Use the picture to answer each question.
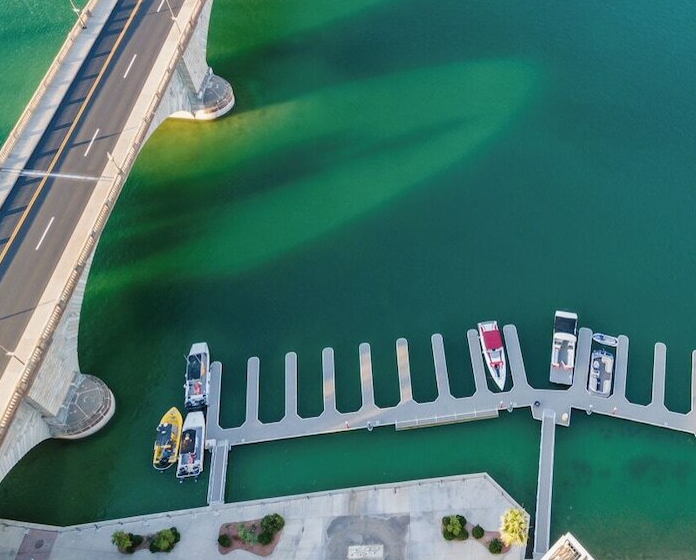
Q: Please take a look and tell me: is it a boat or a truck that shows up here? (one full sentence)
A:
I can see a boat in this picture.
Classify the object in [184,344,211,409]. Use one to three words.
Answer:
boat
